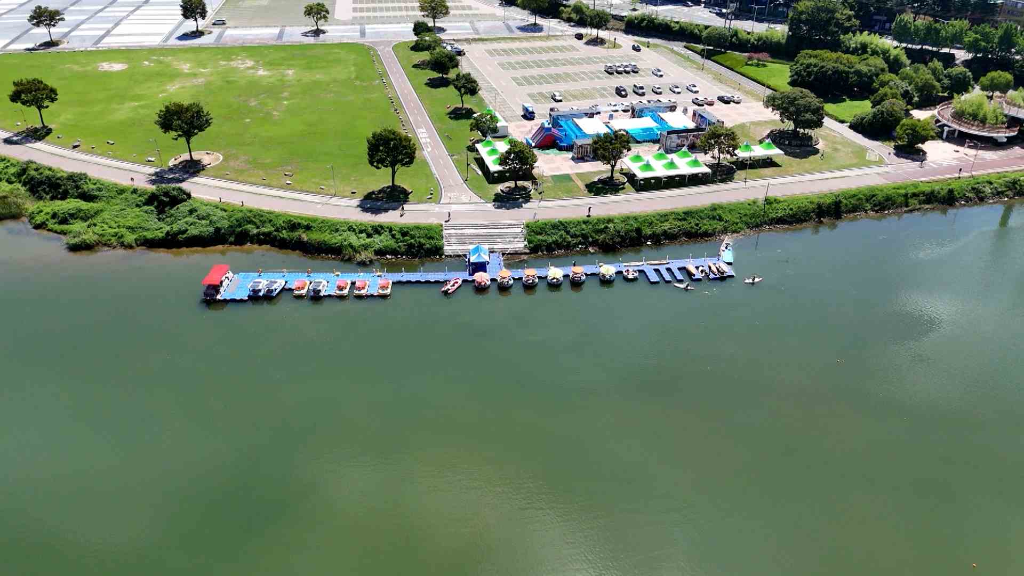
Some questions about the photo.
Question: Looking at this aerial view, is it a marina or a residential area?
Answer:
marina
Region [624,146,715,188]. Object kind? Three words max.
tent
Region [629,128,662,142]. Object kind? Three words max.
swimming pool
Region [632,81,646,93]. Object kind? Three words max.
vehicle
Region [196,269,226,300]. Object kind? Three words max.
boat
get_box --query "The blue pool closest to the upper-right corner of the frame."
[648,120,693,133]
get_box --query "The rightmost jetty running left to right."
[502,253,733,284]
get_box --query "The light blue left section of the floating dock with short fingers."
[221,269,383,301]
